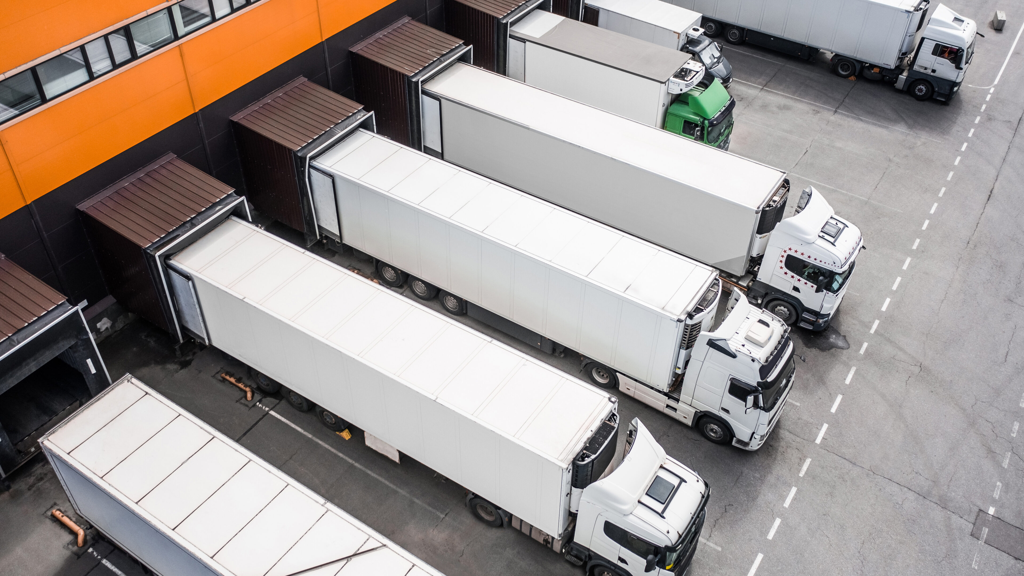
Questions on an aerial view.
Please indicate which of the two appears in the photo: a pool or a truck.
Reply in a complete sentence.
Visible in the photo is a truck.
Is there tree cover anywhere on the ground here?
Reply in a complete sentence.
No, there is no tree cover in the image.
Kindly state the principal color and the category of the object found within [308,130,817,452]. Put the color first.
white truck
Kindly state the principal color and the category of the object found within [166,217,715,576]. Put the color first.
white truck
